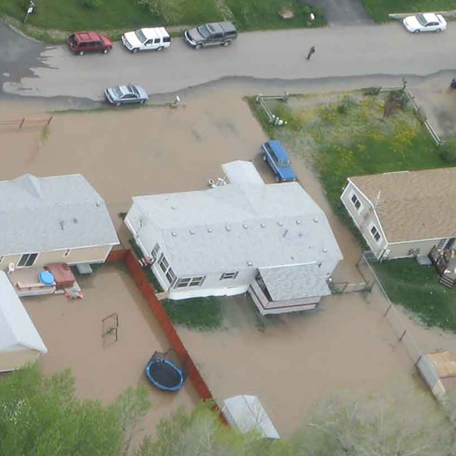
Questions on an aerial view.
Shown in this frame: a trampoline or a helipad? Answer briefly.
trampoline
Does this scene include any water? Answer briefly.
Yes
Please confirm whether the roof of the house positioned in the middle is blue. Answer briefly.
No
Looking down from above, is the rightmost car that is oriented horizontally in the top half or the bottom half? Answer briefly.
top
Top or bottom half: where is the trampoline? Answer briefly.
bottom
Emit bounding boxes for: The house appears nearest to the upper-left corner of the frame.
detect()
[0,168,119,271]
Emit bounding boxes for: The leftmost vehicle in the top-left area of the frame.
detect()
[66,29,115,55]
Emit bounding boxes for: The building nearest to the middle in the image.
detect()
[124,157,344,314]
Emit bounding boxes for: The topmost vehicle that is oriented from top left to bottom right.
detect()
[254,136,300,182]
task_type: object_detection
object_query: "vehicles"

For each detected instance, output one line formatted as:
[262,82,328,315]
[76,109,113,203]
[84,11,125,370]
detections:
[401,12,447,33]
[254,136,300,182]
[120,24,172,51]
[182,20,240,47]
[100,83,150,107]
[66,29,115,55]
